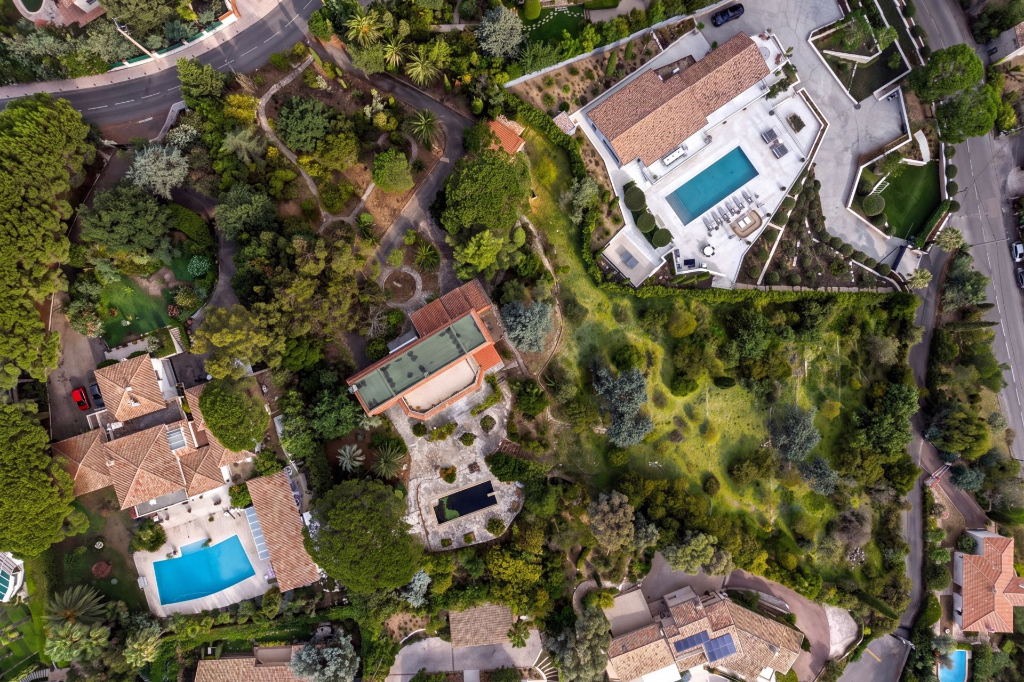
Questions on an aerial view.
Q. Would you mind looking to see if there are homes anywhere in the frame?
Yes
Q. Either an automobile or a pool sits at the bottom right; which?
pool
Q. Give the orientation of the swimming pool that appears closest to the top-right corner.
on a diagonal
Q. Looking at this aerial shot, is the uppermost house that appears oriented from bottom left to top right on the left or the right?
right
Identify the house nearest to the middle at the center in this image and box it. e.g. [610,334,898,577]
[347,278,505,420]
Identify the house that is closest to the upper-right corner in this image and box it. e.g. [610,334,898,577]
[987,21,1024,69]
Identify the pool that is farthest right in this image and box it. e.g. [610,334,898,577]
[938,648,968,682]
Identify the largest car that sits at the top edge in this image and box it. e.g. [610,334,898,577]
[710,3,745,27]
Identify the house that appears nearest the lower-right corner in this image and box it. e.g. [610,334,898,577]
[949,527,1024,633]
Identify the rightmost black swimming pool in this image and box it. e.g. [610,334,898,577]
[431,478,501,527]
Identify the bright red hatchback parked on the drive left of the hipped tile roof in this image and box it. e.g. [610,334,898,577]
[72,386,92,411]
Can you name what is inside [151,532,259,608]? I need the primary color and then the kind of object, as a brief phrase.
blue swimming pool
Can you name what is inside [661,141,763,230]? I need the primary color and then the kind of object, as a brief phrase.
blue swimming pool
